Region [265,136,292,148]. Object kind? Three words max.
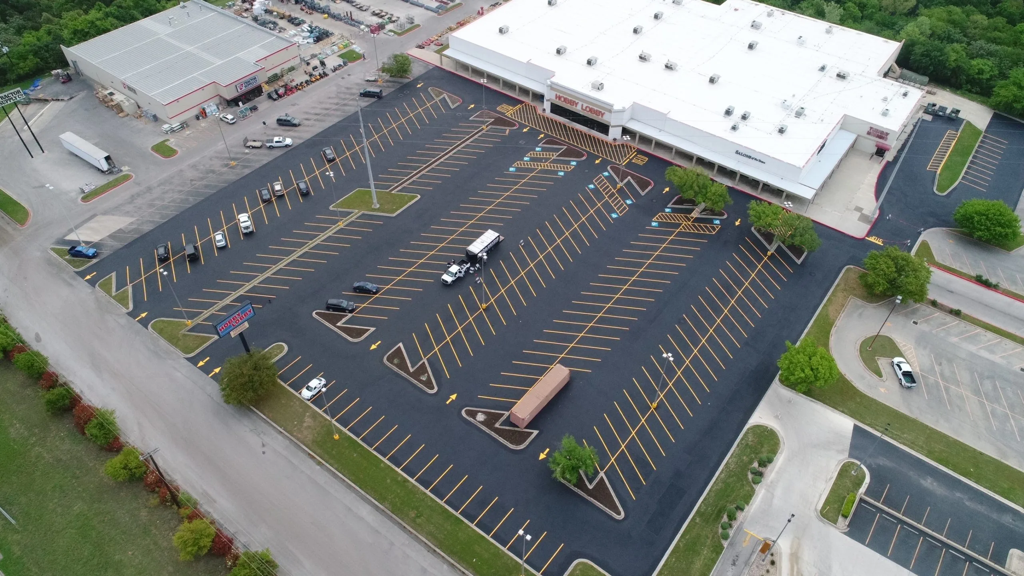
vehicle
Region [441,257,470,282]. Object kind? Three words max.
truck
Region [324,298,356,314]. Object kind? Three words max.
car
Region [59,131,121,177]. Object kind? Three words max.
trailer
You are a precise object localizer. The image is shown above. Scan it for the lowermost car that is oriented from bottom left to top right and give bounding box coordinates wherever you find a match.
[300,375,328,399]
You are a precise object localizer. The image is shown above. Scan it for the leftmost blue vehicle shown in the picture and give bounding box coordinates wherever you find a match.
[64,244,99,259]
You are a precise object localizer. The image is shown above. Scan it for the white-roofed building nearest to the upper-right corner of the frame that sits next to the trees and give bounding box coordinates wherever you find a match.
[442,0,928,202]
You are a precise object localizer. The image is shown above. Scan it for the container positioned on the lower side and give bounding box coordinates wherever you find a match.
[510,363,569,429]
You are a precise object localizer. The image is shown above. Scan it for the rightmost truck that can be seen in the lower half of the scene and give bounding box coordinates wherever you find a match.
[891,355,920,386]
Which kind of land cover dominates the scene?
paved ground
